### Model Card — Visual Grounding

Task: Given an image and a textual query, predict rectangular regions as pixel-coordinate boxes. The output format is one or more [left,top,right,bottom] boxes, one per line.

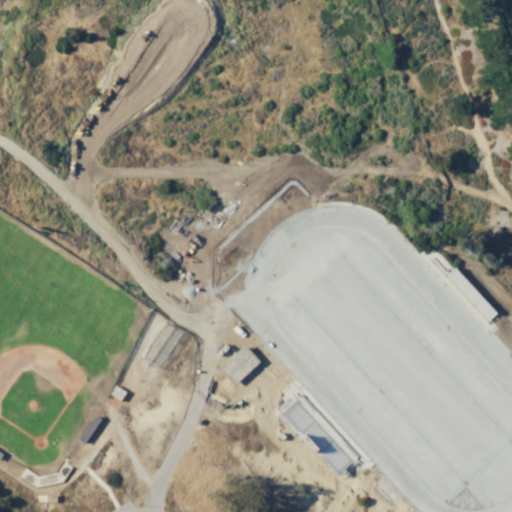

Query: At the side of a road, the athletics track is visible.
[226,196,512,512]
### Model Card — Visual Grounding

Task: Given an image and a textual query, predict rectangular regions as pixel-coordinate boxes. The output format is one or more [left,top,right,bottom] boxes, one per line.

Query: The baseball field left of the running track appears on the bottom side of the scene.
[0,216,134,468]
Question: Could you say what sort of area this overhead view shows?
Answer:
sports ground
